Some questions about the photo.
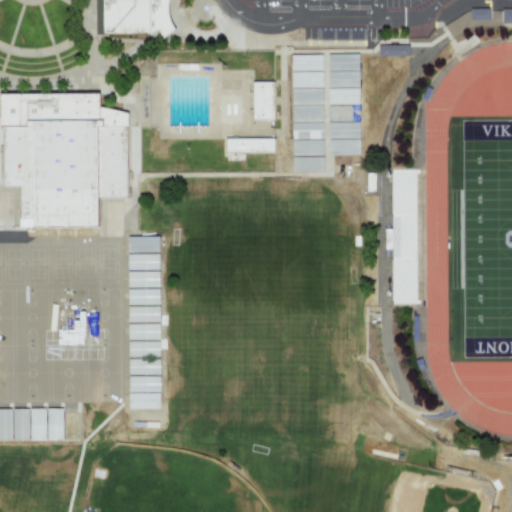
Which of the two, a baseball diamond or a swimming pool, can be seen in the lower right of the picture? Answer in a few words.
baseball diamond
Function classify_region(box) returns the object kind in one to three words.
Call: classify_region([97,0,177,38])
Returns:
building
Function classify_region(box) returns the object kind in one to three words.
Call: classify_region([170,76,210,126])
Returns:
swimming pool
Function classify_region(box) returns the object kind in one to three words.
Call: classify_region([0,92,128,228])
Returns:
building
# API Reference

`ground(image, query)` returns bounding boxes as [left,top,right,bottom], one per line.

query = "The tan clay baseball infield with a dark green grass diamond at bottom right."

[391,472,495,512]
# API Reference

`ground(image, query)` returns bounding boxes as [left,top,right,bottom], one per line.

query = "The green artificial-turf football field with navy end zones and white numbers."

[449,118,512,362]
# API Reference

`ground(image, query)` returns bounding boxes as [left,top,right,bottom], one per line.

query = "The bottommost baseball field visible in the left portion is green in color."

[87,443,272,512]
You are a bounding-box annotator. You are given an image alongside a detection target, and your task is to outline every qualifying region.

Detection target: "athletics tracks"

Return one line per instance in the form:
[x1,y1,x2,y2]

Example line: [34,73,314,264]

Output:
[427,42,512,436]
